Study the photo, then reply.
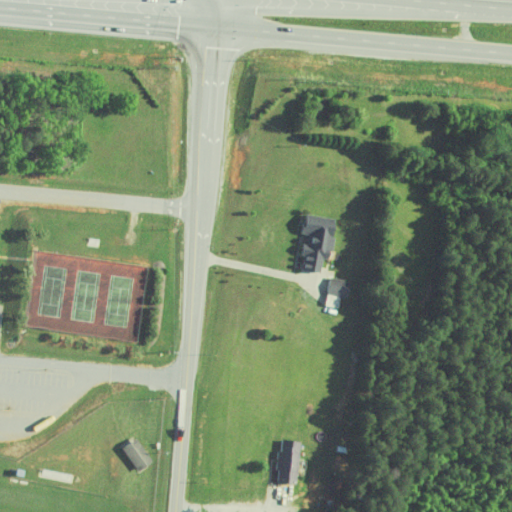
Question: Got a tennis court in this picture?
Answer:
Yes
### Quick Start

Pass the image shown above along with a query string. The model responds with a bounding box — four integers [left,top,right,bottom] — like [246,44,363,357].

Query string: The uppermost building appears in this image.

[300,214,338,272]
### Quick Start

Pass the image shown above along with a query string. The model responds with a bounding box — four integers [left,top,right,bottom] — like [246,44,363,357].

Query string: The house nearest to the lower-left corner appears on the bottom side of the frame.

[123,439,154,473]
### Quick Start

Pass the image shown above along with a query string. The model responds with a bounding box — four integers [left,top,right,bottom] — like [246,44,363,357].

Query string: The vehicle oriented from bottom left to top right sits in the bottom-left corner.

[34,415,56,432]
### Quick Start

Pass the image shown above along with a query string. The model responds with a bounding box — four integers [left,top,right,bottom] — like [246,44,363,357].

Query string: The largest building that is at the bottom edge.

[274,440,302,488]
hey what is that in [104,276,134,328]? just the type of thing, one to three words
tennis court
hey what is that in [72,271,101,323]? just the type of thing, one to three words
tennis court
